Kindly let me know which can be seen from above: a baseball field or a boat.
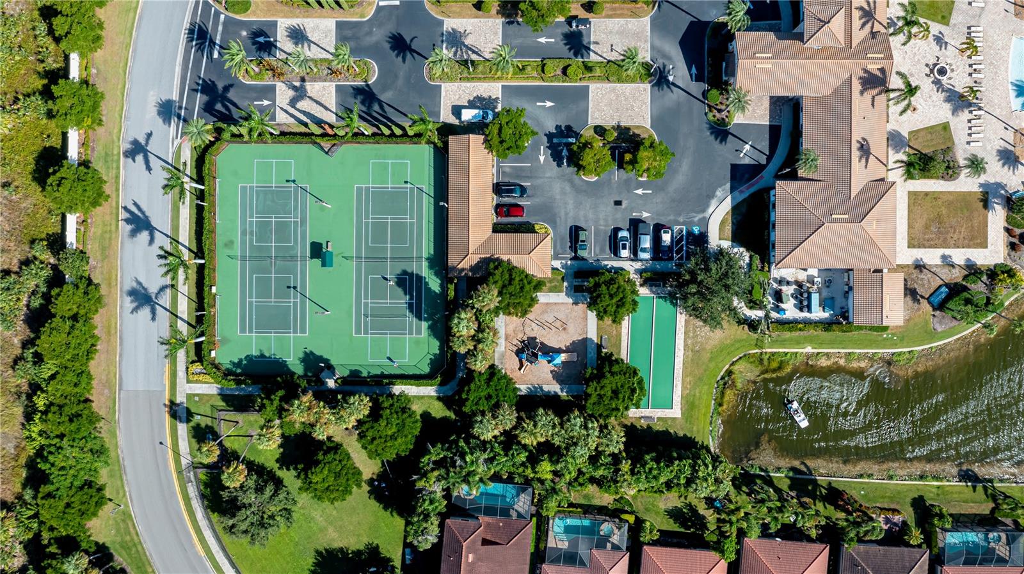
boat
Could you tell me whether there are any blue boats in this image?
No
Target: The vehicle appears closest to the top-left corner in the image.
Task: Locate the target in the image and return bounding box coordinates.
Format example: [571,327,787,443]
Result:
[461,106,492,122]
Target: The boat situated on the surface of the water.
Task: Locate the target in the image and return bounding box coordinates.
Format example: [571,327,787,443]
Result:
[785,400,809,428]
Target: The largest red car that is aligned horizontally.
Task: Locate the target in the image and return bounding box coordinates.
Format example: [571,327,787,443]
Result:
[496,203,524,217]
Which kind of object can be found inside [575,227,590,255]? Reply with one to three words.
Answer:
car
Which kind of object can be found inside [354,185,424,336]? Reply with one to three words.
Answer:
tennis court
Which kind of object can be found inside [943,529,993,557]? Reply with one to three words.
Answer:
swimming pool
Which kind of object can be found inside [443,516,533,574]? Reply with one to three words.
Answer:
house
